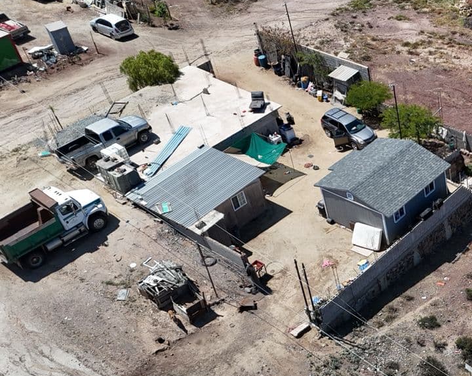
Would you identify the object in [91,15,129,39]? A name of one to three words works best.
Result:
car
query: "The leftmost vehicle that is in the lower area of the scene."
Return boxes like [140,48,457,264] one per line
[0,192,113,275]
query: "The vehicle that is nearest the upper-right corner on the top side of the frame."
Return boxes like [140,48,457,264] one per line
[318,108,378,150]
